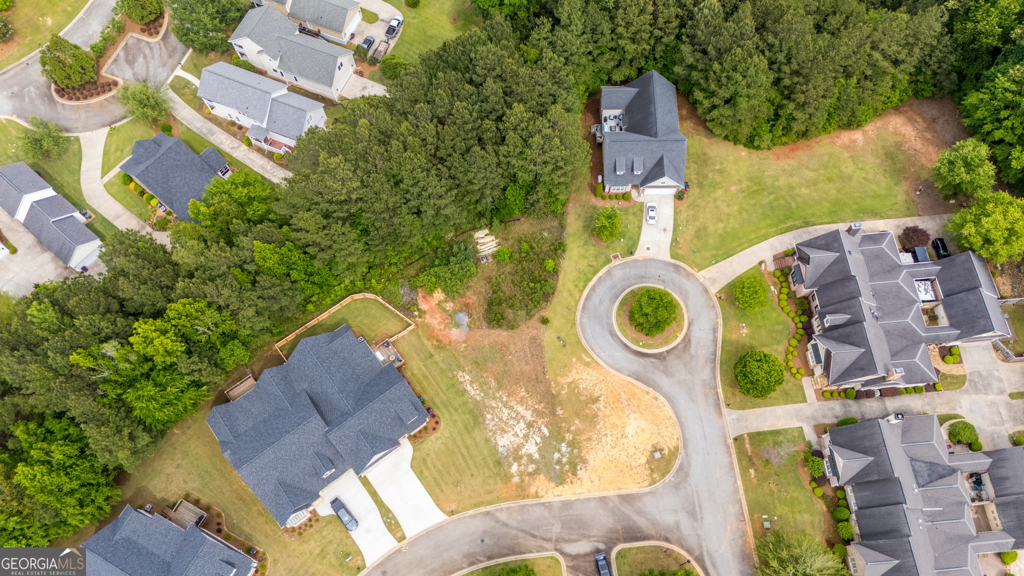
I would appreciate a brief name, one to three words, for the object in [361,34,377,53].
car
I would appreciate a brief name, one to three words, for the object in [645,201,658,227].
vehicle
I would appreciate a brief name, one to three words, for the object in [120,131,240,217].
house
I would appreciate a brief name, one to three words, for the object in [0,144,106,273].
house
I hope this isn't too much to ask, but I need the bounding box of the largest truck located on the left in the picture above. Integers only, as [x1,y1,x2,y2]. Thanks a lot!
[329,494,360,535]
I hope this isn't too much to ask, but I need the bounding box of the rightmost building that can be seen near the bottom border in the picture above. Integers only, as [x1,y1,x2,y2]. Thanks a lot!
[820,406,1024,576]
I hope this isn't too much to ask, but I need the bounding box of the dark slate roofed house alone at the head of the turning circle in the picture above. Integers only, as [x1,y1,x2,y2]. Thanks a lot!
[600,70,687,195]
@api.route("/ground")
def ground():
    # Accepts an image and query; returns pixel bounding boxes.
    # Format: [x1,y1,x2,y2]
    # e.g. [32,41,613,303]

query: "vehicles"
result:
[361,34,377,53]
[931,235,952,262]
[645,201,658,227]
[594,550,614,576]
[329,494,360,535]
[383,16,404,41]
